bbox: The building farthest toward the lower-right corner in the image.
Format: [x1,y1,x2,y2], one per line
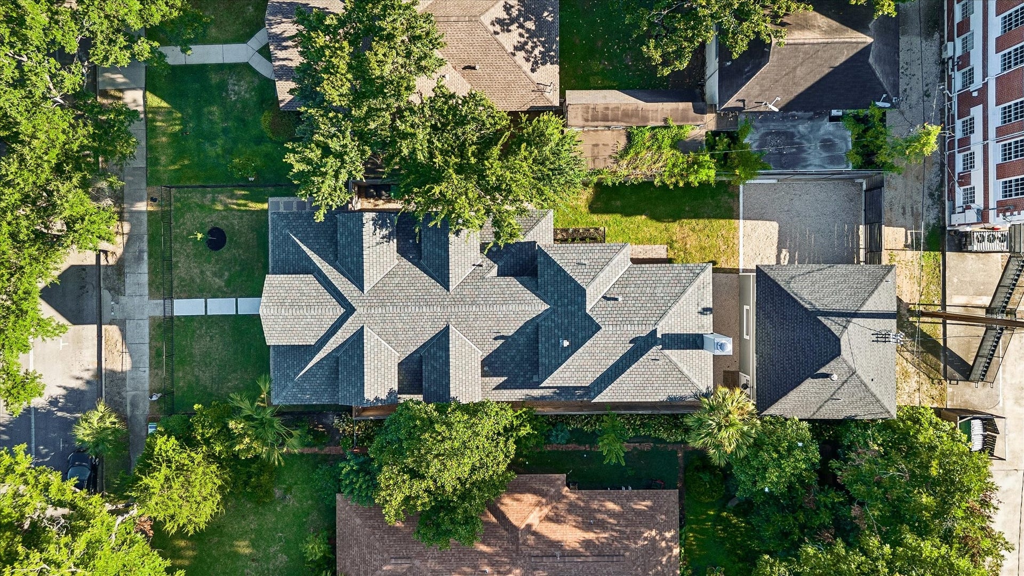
[740,264,898,417]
